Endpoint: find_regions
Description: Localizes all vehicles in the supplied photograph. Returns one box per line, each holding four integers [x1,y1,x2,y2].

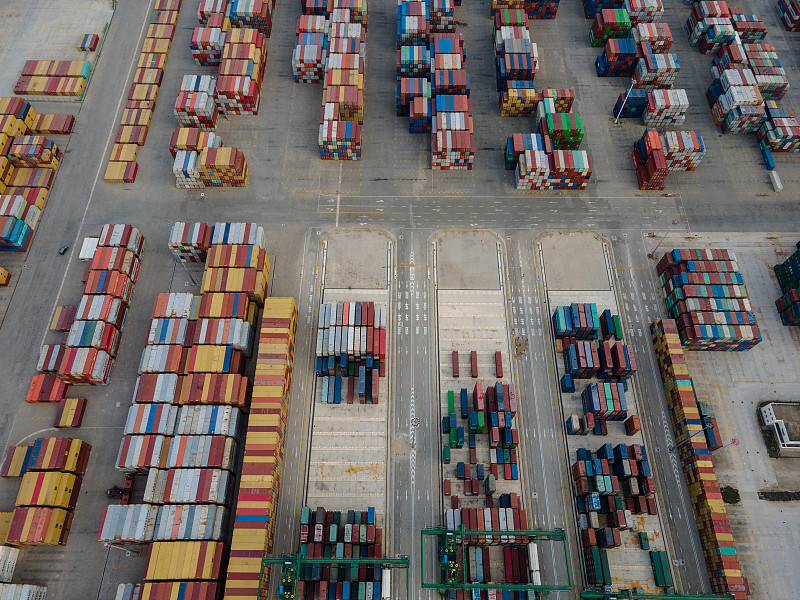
[57,246,67,255]
[383,564,390,598]
[104,476,134,505]
[529,537,541,585]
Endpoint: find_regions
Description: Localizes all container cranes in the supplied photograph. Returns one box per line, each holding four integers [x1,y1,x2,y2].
[580,585,736,600]
[259,550,410,600]
[421,522,574,596]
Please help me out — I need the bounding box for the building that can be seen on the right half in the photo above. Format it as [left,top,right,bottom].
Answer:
[753,402,800,451]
